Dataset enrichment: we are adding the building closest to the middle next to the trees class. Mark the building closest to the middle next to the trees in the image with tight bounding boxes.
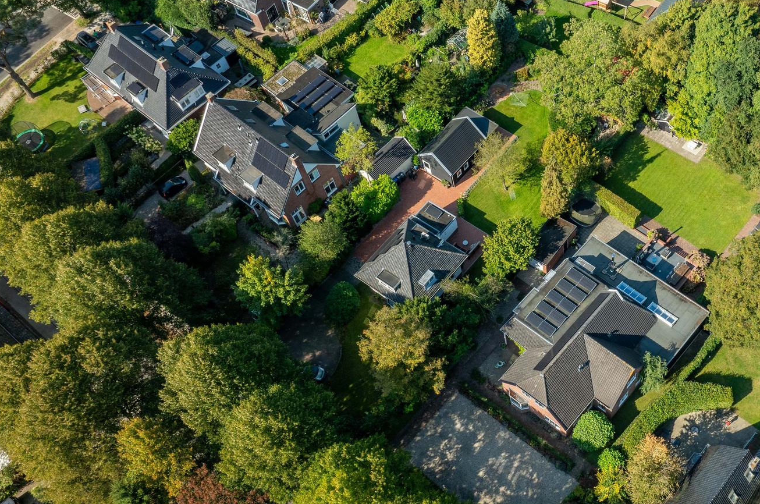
[354,198,473,311]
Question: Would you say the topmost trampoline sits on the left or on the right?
left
